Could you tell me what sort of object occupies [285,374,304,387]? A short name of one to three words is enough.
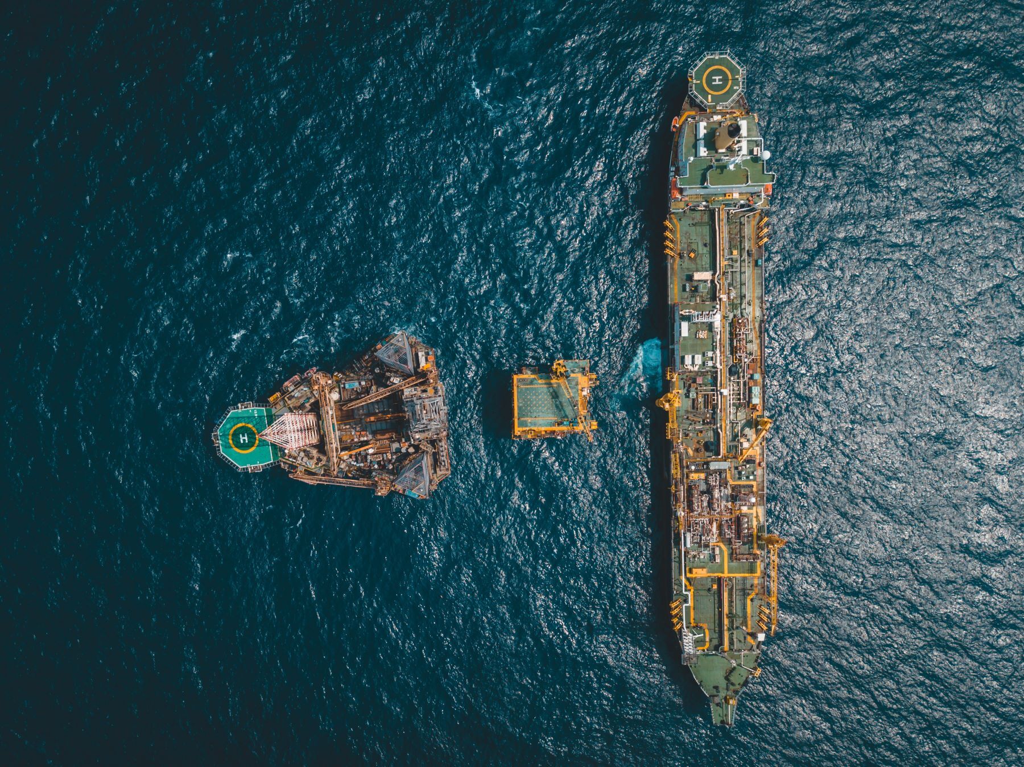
boat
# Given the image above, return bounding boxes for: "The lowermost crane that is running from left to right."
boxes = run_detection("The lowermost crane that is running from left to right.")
[288,474,393,496]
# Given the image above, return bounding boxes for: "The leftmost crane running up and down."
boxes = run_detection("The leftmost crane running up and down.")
[316,369,337,476]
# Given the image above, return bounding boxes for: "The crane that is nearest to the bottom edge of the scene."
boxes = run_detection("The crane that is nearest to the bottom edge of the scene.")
[759,536,791,635]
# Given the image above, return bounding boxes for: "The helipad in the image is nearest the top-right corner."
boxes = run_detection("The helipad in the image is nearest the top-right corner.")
[688,51,750,109]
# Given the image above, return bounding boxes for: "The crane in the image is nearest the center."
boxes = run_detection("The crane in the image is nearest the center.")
[552,360,593,442]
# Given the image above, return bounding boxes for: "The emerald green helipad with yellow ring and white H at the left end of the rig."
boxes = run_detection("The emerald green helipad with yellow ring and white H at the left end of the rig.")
[211,402,280,473]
